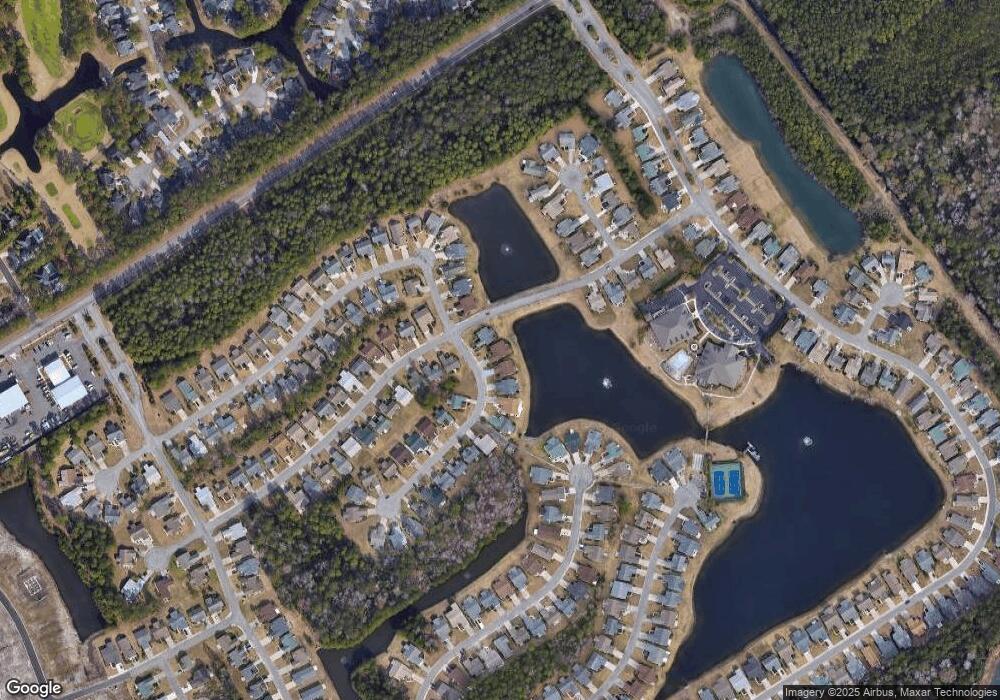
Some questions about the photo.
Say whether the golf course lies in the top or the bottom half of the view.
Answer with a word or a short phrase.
top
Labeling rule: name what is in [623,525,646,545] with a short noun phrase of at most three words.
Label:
house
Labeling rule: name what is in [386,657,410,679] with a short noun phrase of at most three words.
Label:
house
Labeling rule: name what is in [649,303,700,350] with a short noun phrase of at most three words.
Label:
building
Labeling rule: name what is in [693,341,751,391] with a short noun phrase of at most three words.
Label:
building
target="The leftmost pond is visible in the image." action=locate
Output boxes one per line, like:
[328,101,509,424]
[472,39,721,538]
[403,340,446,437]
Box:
[0,55,102,172]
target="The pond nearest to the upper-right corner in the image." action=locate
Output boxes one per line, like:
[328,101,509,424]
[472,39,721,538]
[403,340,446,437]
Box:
[705,55,861,254]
